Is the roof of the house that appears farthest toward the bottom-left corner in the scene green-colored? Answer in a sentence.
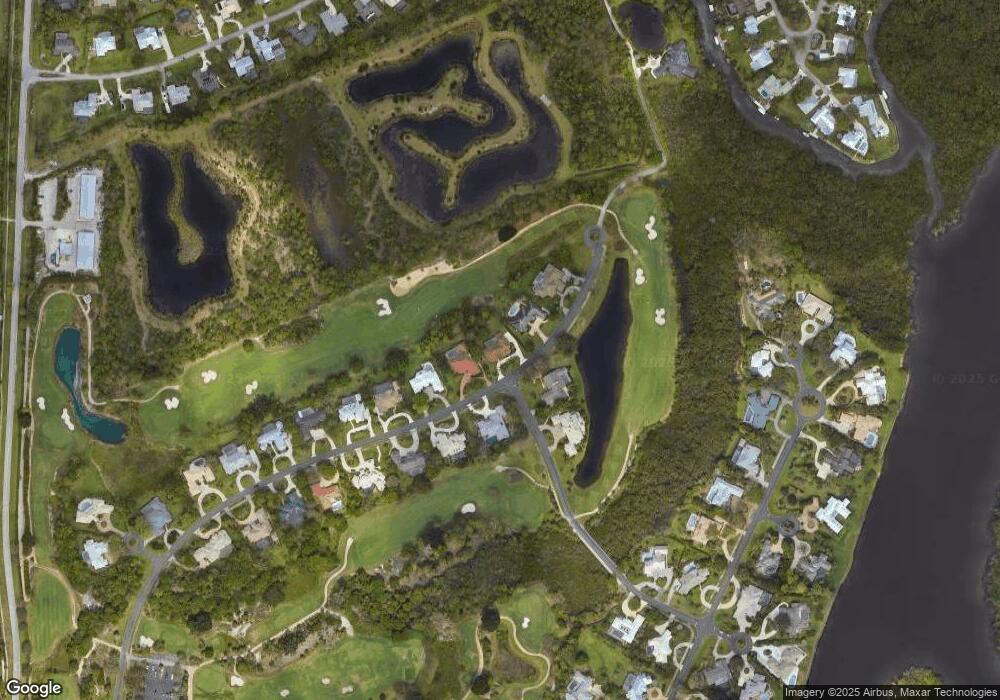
No, from above the roof of the house that appears farthest toward the bottom-left corner looks white.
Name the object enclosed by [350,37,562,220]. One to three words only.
pond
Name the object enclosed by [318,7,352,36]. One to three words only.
house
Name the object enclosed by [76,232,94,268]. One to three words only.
building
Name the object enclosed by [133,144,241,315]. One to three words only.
pond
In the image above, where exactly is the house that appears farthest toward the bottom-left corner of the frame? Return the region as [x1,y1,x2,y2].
[81,543,107,564]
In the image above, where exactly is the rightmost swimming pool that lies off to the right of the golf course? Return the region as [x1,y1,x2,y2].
[863,432,878,448]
